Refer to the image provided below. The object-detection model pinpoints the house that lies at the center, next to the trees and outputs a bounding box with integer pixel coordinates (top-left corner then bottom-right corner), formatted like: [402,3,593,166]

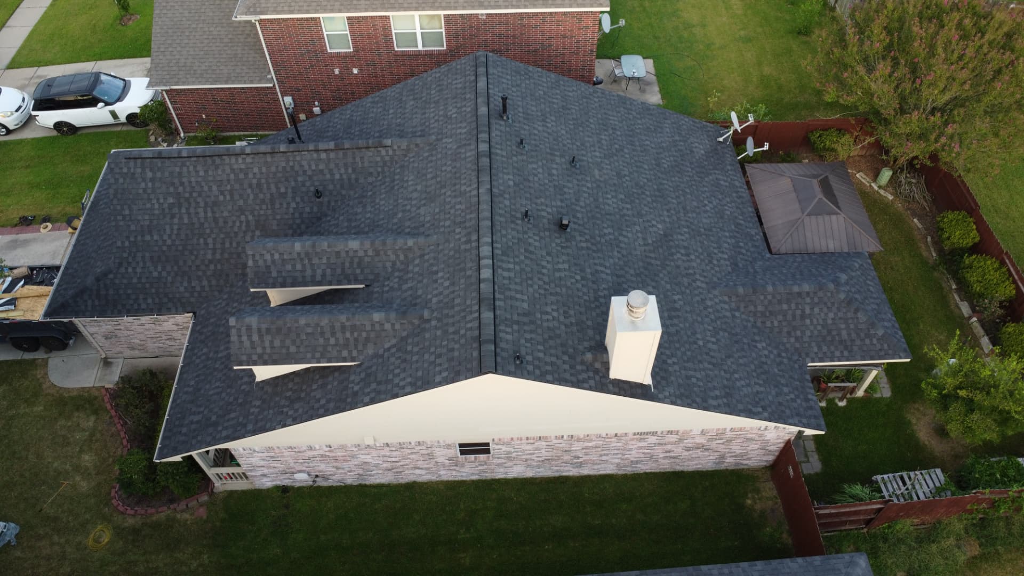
[40,52,915,491]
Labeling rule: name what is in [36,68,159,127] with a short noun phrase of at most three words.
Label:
car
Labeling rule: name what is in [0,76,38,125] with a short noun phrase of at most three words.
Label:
car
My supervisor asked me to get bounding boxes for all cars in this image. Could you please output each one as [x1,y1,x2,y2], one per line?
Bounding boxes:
[0,76,38,125]
[36,68,159,127]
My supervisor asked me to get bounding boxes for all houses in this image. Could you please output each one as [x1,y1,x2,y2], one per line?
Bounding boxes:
[582,551,869,576]
[40,52,915,491]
